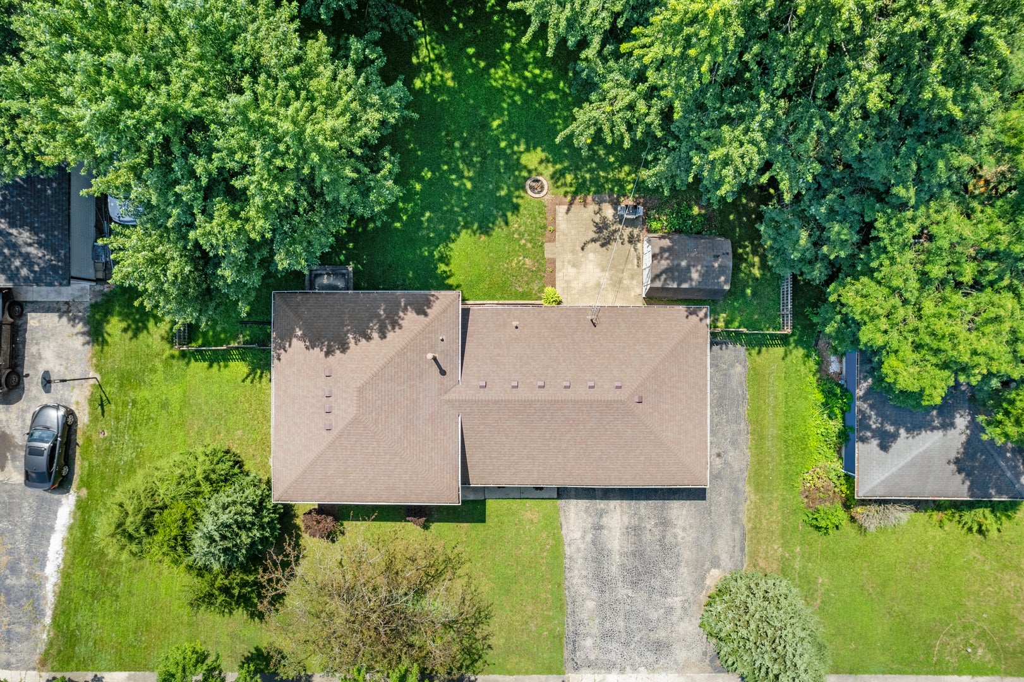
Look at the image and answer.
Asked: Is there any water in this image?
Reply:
No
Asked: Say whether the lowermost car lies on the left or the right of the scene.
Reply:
left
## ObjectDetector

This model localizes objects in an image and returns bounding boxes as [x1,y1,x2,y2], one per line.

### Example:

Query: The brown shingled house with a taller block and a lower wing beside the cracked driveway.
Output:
[272,291,710,505]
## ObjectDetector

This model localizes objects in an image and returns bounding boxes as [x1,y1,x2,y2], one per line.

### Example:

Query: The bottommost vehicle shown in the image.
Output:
[22,401,74,491]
